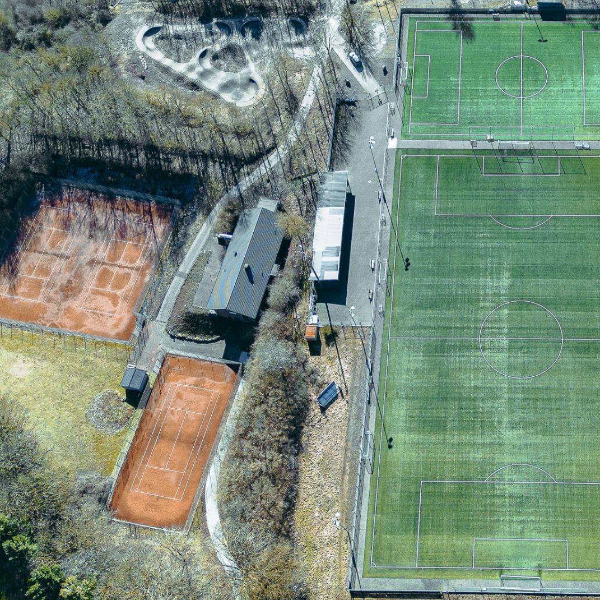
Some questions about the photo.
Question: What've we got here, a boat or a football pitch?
football pitch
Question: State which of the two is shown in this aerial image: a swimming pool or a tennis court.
tennis court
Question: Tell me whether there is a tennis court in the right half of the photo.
No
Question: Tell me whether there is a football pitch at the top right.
Yes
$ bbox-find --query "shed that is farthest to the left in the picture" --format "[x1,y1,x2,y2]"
[120,368,149,392]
